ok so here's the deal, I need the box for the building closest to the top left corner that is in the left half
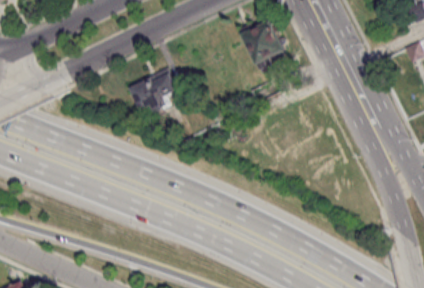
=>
[127,67,176,110]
